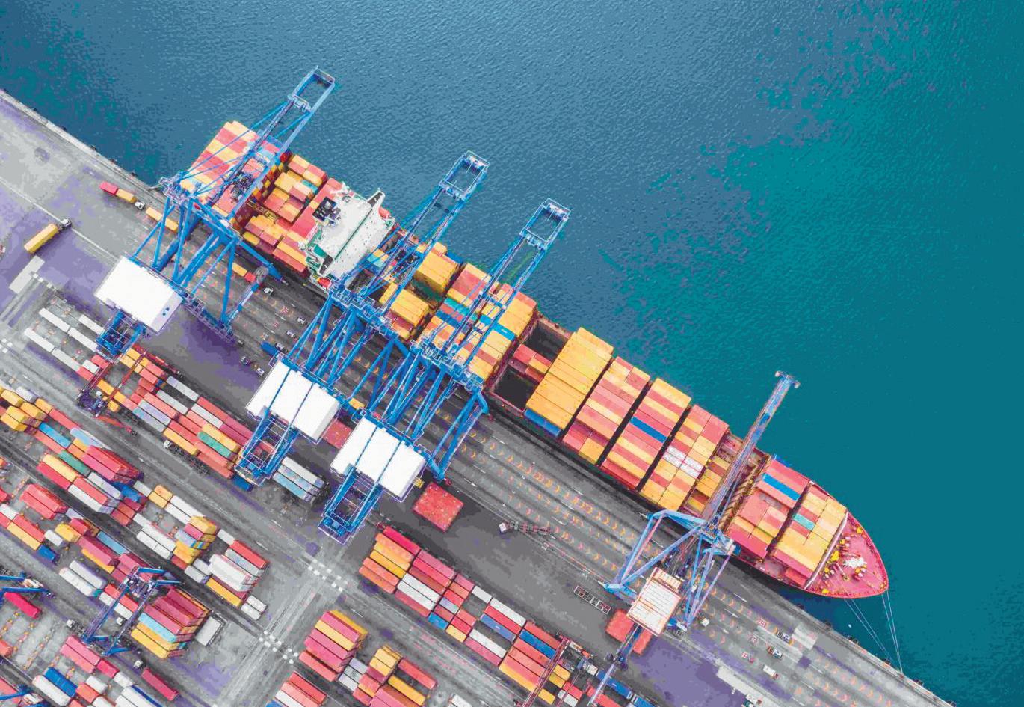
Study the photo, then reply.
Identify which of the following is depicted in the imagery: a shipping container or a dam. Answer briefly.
shipping container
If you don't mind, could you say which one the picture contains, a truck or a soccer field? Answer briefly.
truck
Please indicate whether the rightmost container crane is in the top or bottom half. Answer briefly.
bottom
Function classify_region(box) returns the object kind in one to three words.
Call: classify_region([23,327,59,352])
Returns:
shipping container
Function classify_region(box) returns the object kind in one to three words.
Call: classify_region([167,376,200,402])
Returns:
shipping container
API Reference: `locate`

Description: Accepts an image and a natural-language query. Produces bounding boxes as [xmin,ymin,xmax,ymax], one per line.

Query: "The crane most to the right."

[591,366,806,707]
